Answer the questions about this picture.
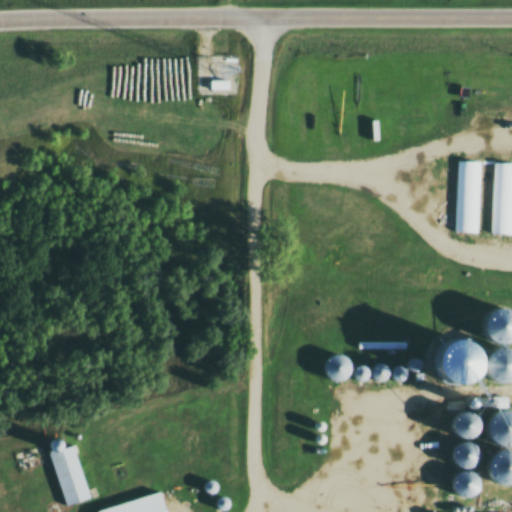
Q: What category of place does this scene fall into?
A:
industrial area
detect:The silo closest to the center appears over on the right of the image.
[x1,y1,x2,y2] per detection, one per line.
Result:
[323,354,354,382]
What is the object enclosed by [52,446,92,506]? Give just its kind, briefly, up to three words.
shed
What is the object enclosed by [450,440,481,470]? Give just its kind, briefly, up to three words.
silo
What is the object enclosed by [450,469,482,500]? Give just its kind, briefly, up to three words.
silo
